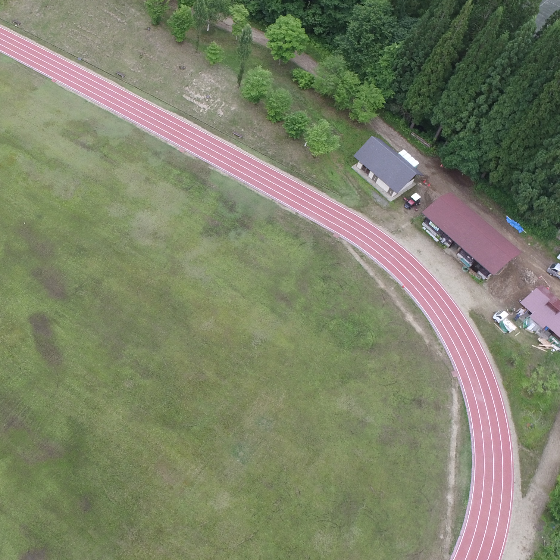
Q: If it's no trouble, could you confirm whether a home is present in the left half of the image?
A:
No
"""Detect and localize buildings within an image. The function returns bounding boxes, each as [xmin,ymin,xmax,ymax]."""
[508,286,560,362]
[351,138,424,204]
[419,194,522,280]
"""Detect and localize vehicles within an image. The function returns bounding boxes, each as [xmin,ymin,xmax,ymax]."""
[545,264,560,284]
[492,308,518,332]
[399,192,421,214]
